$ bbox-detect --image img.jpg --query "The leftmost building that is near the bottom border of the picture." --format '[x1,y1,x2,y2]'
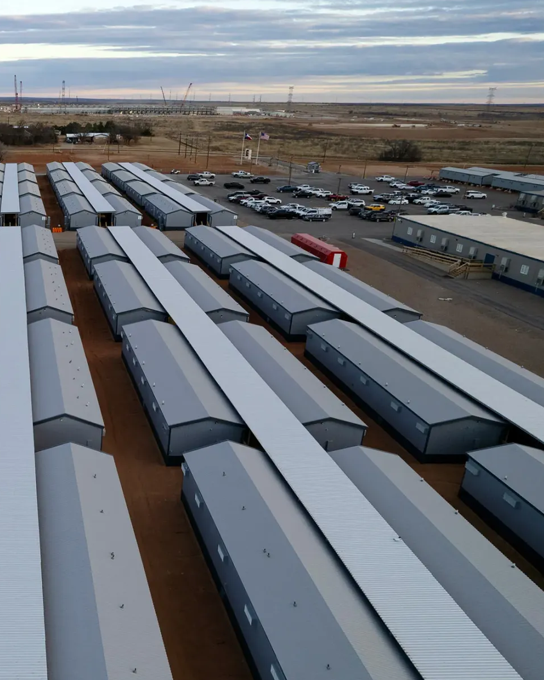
[33,442,174,680]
